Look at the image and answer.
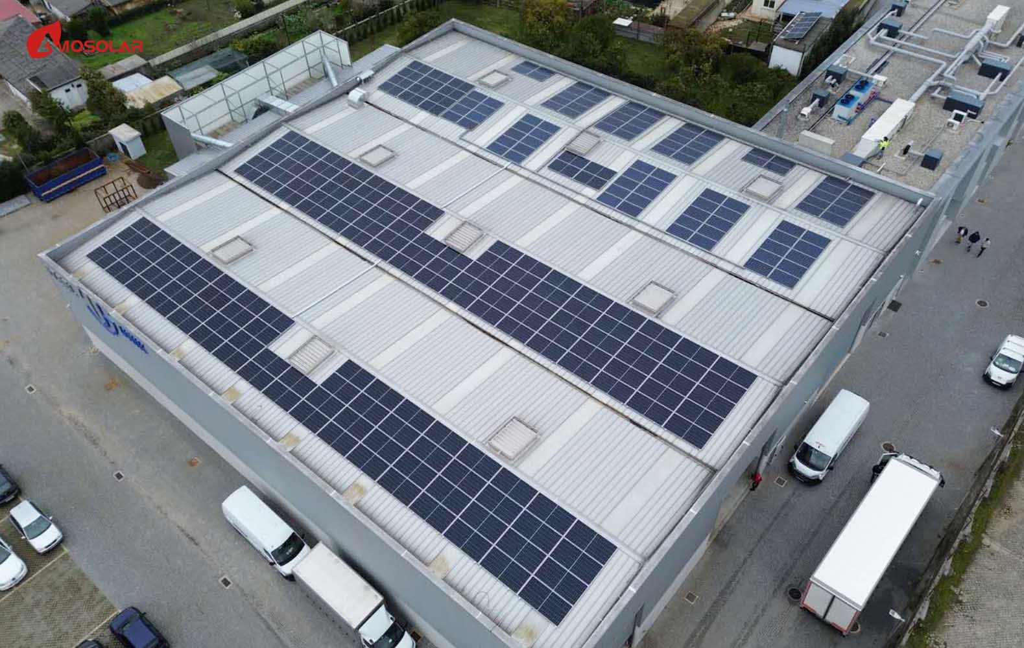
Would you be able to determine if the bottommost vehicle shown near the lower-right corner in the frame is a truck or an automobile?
truck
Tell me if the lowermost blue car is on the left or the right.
left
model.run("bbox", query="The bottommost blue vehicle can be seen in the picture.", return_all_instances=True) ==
[108,604,176,648]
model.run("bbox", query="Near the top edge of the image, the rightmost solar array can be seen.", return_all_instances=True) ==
[775,10,823,44]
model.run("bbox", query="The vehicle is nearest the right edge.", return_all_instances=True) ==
[984,330,1024,393]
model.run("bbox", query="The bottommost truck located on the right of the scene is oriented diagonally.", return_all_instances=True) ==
[793,450,944,639]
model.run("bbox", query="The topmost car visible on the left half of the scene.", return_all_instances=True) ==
[0,461,25,510]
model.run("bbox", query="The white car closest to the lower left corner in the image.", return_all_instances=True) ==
[0,536,31,595]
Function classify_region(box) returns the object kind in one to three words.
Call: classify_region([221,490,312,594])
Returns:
van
